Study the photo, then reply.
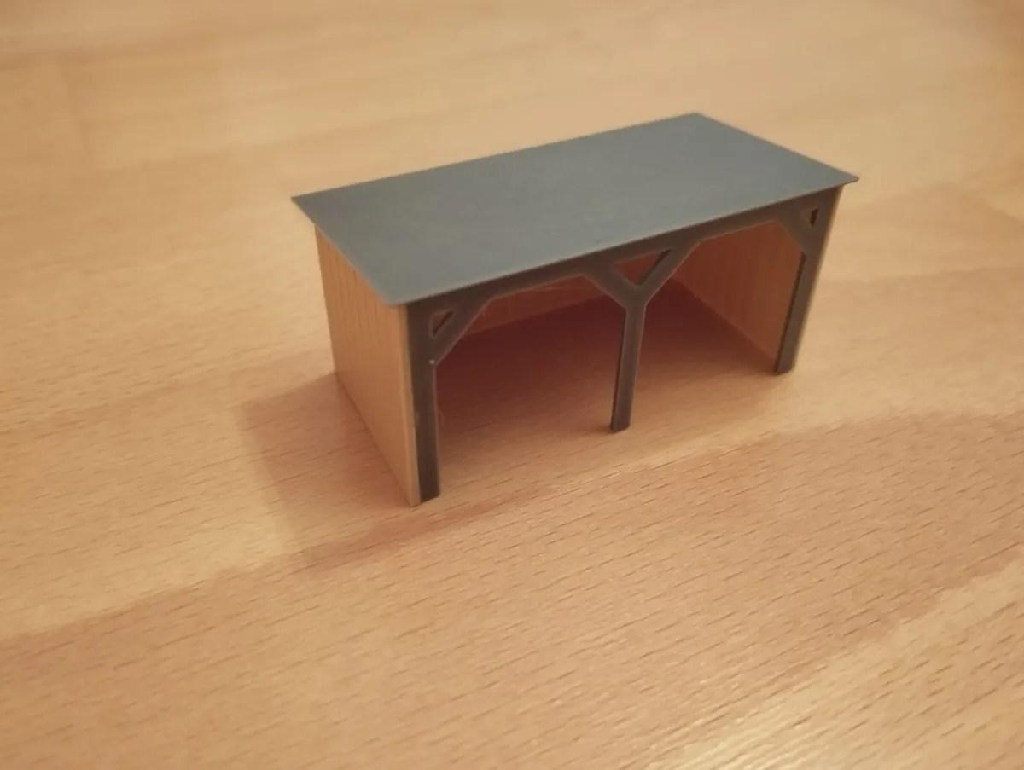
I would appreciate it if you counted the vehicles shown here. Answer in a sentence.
There are no vehicles in this view.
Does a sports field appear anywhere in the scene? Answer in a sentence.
No, no sports field can be seen from above.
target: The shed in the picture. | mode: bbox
[293,113,858,505]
